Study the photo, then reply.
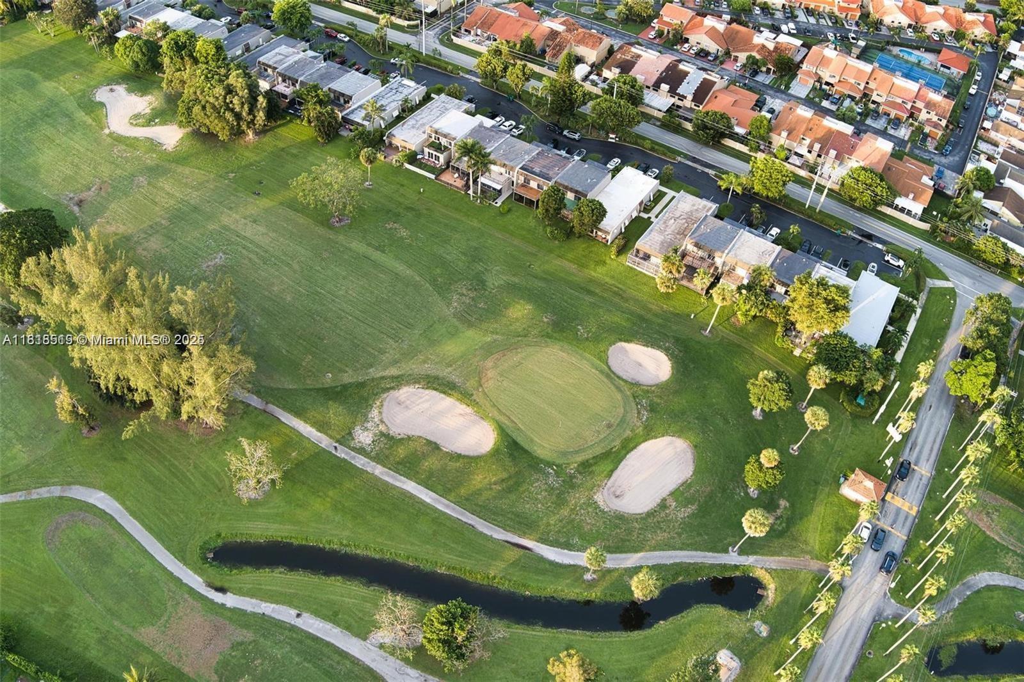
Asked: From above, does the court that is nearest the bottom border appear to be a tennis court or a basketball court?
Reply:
tennis court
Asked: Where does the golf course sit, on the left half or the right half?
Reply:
left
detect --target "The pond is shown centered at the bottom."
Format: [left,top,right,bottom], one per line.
[211,541,764,633]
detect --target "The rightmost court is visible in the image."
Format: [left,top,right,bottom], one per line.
[845,43,968,97]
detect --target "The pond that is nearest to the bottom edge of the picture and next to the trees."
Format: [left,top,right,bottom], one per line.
[926,641,1024,680]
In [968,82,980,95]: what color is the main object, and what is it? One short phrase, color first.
white vehicle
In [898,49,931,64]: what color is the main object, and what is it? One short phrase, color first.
blue swimming pool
